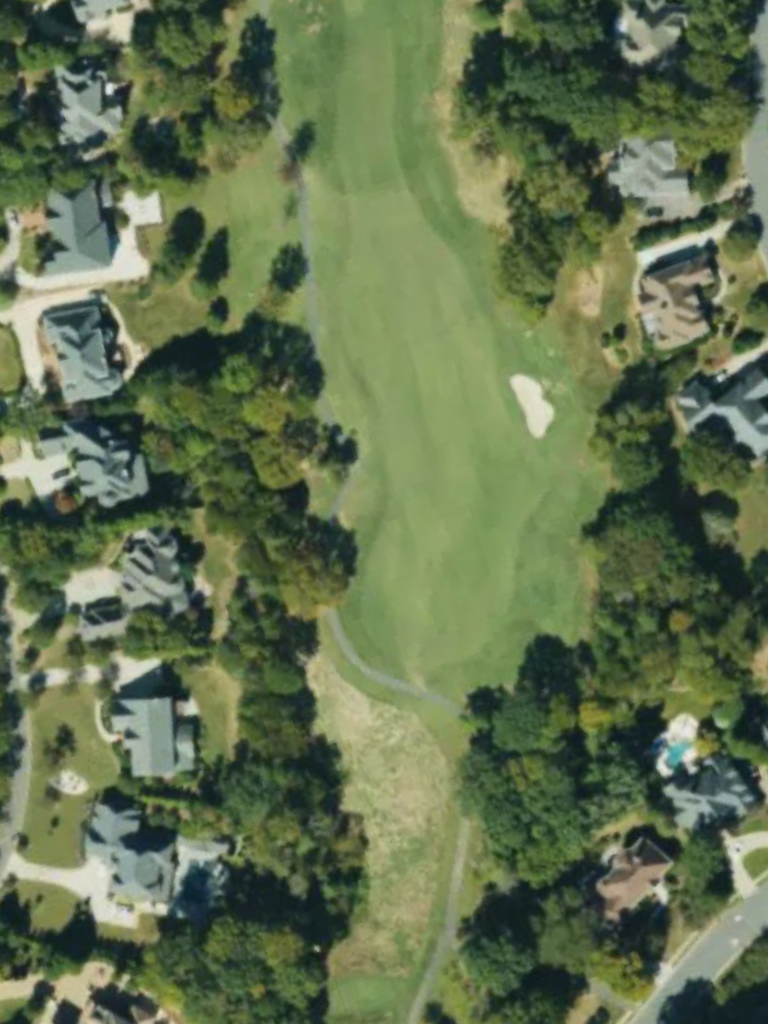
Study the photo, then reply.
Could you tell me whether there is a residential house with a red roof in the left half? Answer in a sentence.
No, in the left half there is no residential house with a red roof.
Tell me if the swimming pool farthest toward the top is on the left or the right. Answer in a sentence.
The swimming pool farthest toward the top is on the right side of the image.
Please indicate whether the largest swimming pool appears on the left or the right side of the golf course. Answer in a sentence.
Compared with the golf course, the largest swimming pool is located further to the left.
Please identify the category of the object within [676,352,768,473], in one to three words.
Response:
house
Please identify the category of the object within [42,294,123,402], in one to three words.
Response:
house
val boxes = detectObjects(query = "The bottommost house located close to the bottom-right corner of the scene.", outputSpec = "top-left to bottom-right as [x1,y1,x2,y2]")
[593,834,677,927]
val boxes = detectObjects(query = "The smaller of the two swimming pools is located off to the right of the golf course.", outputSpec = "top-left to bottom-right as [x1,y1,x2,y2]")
[666,739,694,774]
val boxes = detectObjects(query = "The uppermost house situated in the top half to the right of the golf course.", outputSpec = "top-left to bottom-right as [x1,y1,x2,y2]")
[621,0,687,62]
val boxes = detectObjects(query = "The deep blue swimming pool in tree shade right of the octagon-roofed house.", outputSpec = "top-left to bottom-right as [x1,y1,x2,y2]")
[183,858,220,905]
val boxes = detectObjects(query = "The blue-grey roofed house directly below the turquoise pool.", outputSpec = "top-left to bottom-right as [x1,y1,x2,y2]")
[663,760,758,830]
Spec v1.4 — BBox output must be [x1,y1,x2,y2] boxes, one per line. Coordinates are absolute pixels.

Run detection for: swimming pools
[183,858,220,905]
[666,739,694,774]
